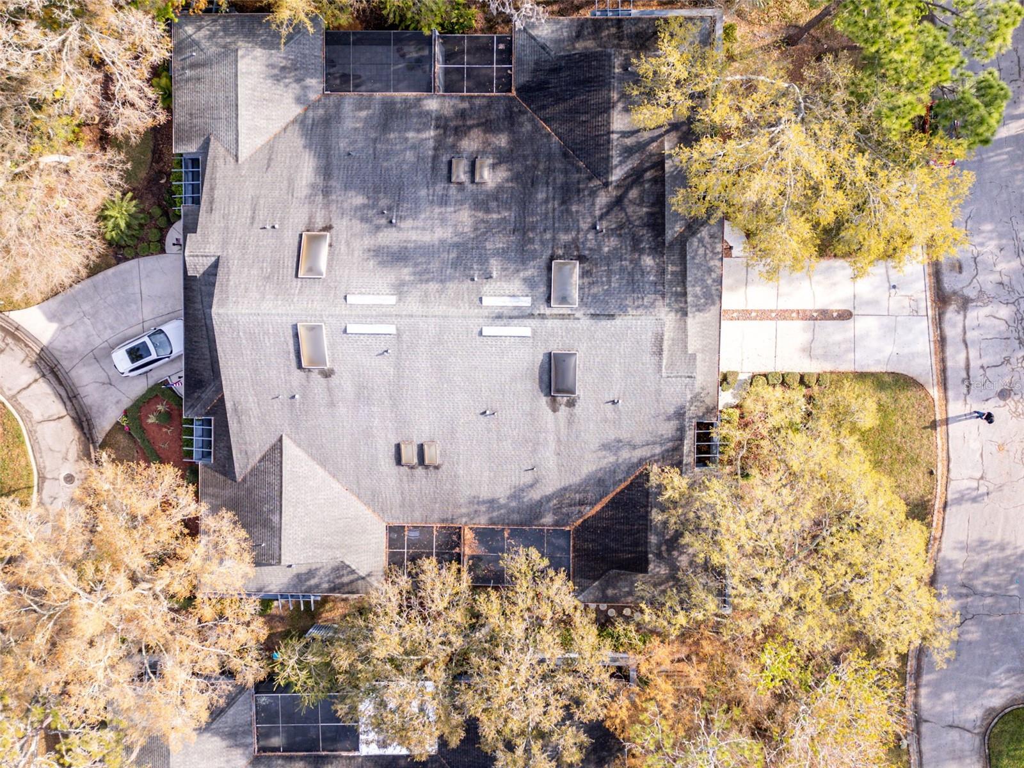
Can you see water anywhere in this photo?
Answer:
No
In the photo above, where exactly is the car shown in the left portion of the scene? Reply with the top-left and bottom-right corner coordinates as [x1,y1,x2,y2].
[113,323,183,376]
